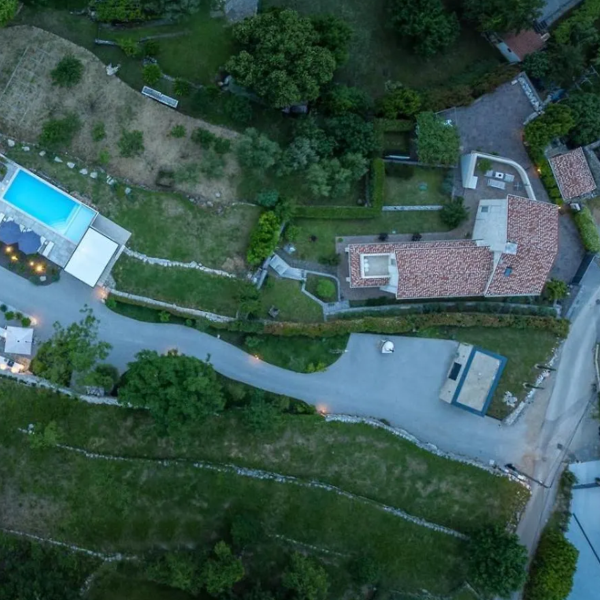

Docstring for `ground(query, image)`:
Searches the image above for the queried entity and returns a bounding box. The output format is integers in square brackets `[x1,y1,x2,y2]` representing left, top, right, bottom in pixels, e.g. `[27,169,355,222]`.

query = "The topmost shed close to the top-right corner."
[489,12,551,62]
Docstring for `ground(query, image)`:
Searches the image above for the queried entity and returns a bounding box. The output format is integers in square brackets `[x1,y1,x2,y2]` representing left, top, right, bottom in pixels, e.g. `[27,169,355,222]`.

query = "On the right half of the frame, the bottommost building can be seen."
[428,341,507,417]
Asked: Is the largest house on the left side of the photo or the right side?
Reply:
right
